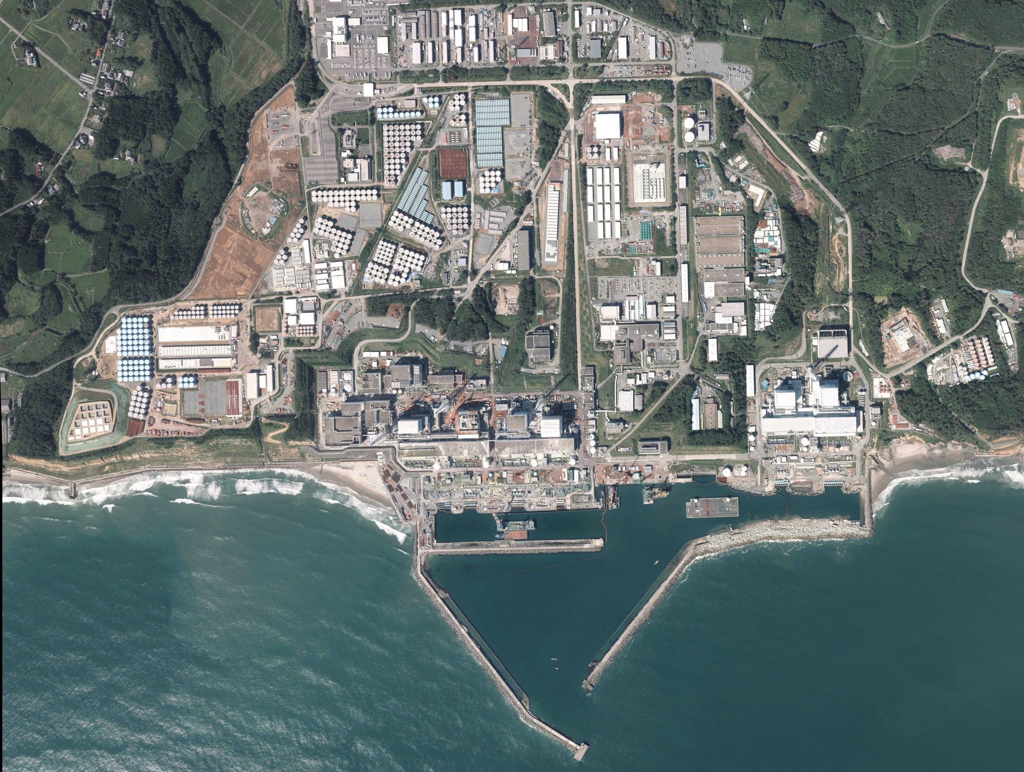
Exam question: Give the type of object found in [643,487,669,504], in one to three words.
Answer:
ship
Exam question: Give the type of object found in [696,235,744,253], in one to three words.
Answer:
building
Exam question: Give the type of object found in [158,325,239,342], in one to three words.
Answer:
building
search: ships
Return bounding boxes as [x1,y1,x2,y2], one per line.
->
[503,520,535,531]
[643,487,669,504]
[504,530,528,539]
[609,485,618,509]
[599,486,605,510]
